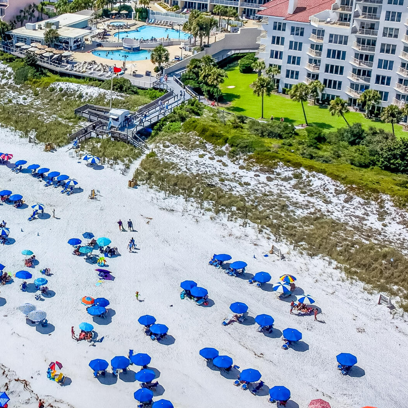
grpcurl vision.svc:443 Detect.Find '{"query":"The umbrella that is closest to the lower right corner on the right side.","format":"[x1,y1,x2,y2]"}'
[336,355,357,370]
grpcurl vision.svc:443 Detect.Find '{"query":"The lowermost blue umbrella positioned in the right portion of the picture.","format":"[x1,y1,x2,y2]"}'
[268,388,292,402]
